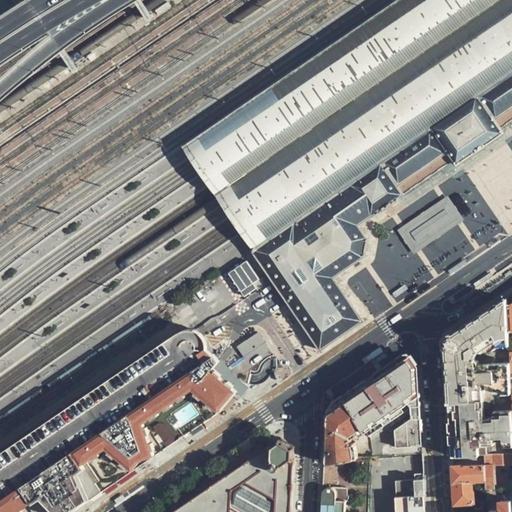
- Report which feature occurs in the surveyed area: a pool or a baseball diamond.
pool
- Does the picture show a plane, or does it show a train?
train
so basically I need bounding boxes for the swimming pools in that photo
[172,402,200,430]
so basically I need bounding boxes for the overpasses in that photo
[0,0,152,102]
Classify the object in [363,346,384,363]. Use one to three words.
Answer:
vehicle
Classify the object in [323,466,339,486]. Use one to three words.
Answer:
house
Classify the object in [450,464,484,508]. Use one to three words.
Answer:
house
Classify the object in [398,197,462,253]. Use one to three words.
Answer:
building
